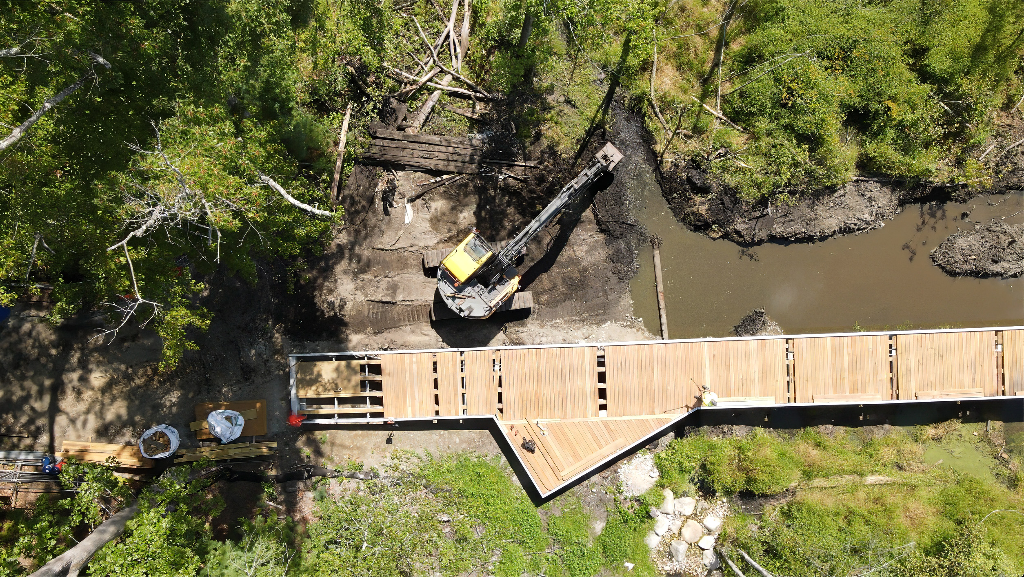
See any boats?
No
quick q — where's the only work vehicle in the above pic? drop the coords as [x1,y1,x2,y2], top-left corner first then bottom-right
[421,142,626,323]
